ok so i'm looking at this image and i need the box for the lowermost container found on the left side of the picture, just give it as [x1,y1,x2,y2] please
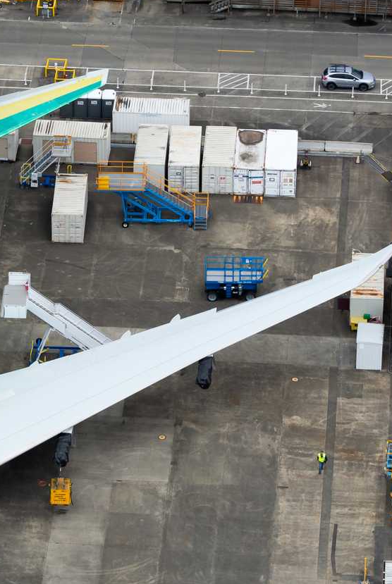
[51,173,91,243]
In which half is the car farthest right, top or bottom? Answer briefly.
top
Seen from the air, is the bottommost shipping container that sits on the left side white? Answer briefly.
Yes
